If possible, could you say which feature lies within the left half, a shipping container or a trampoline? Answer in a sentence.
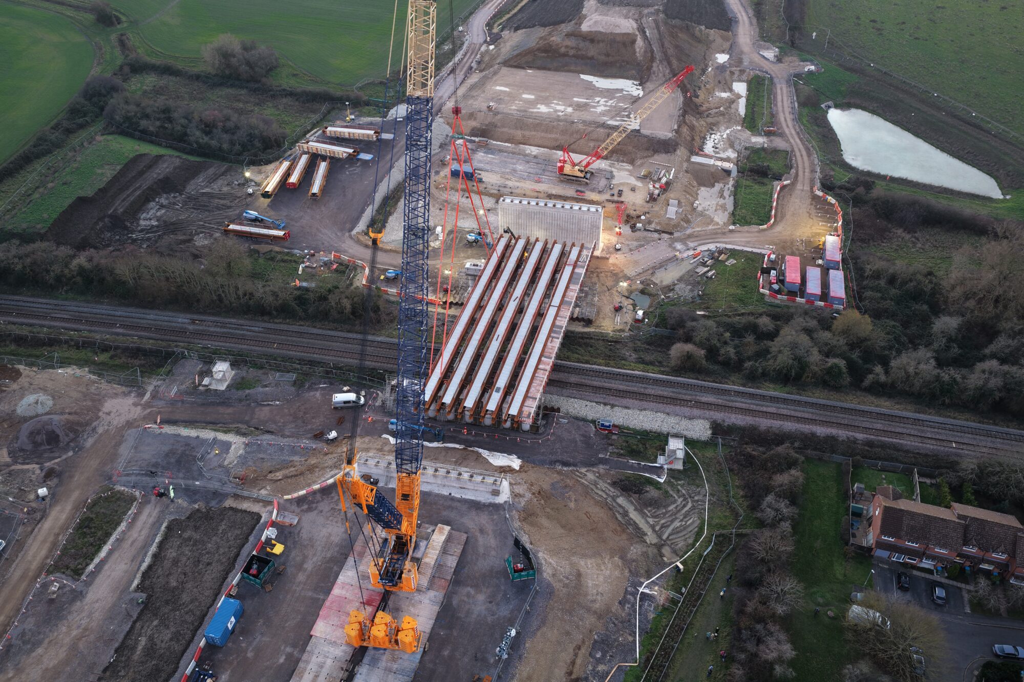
It is a shipping container that can be seen within the left half.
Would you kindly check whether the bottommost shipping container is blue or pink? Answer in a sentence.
The bottommost shipping container is blue.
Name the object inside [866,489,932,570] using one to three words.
house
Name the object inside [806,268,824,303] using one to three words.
building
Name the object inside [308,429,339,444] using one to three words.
work vehicle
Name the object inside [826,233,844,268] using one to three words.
building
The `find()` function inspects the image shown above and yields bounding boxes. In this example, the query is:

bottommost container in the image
[200,599,239,648]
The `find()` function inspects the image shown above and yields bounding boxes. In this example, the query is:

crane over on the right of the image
[554,67,692,187]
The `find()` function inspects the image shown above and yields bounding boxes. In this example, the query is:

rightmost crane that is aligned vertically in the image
[327,0,453,614]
